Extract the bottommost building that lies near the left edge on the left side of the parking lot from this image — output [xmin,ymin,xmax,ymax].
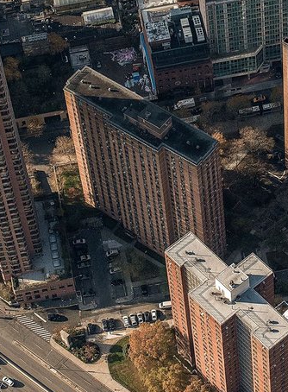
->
[6,198,77,288]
